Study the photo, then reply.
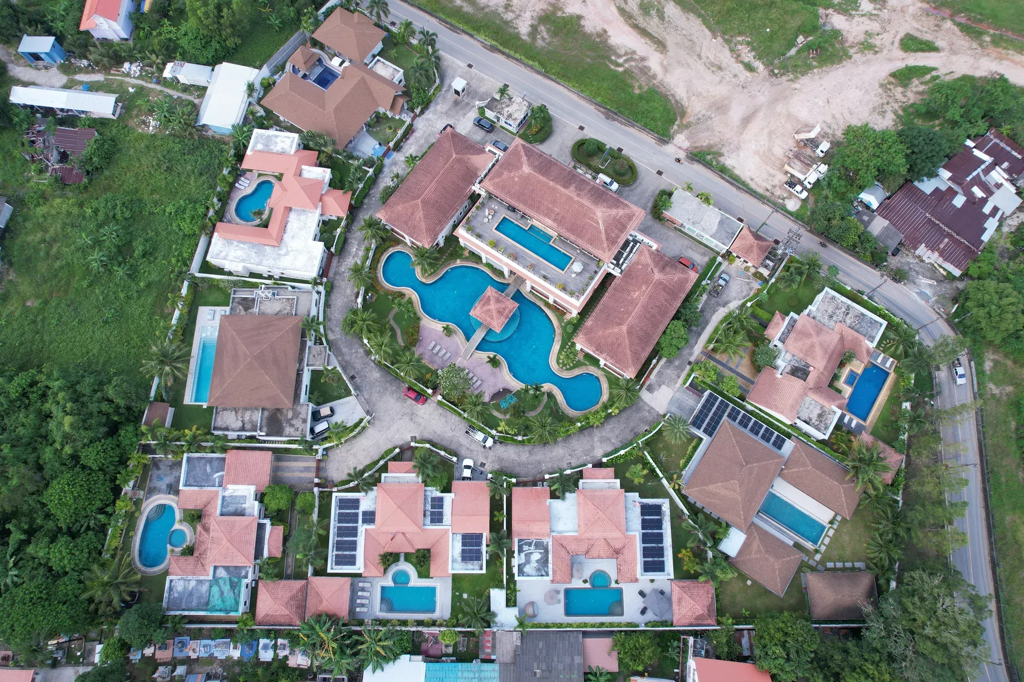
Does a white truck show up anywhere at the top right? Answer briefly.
Yes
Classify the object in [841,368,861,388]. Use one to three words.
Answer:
swimming pool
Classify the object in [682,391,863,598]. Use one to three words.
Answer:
house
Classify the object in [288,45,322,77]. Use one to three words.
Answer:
gazebo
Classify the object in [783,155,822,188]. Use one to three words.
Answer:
truck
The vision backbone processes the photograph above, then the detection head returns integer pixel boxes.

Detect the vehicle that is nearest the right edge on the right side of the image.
[949,359,967,385]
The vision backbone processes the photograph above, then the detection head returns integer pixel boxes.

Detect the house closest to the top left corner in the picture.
[18,36,66,65]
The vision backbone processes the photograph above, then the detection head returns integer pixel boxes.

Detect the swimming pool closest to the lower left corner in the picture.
[129,496,191,577]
